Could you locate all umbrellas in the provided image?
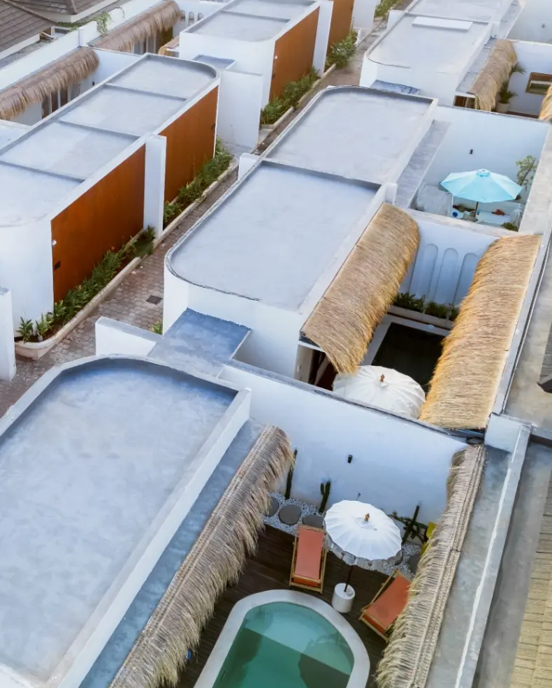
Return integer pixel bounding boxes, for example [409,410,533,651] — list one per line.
[313,509,400,614]
[333,362,423,417]
[441,167,521,226]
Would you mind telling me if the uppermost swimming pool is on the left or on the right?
right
